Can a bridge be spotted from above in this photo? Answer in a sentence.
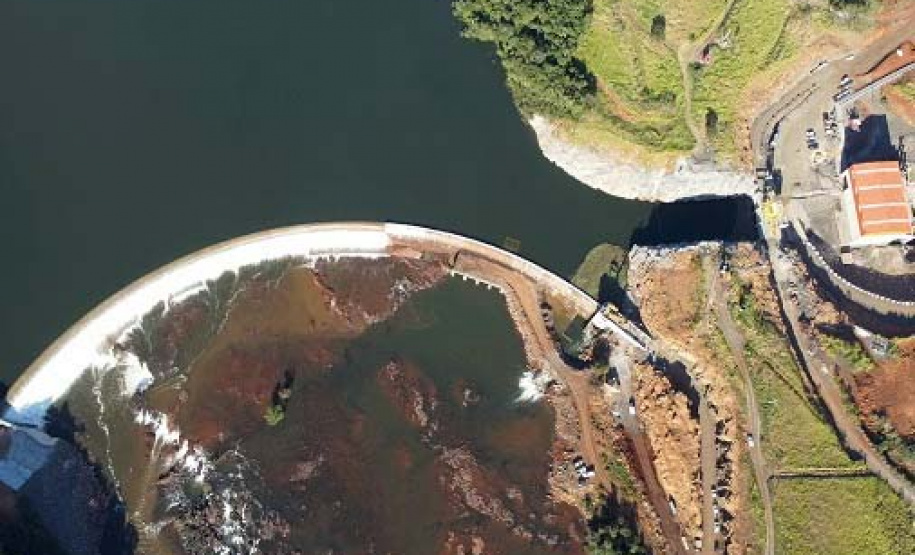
Yes, the picture does show a bridge.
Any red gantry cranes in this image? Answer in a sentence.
No, no red gantry crane can be seen from above.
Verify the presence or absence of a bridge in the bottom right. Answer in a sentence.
No, there is no bridge in the bottom right.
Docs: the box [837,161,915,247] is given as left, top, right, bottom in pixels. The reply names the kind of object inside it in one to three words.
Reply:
building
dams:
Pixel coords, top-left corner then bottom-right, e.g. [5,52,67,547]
[0,218,601,426]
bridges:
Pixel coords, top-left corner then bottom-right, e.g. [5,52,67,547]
[751,196,785,252]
